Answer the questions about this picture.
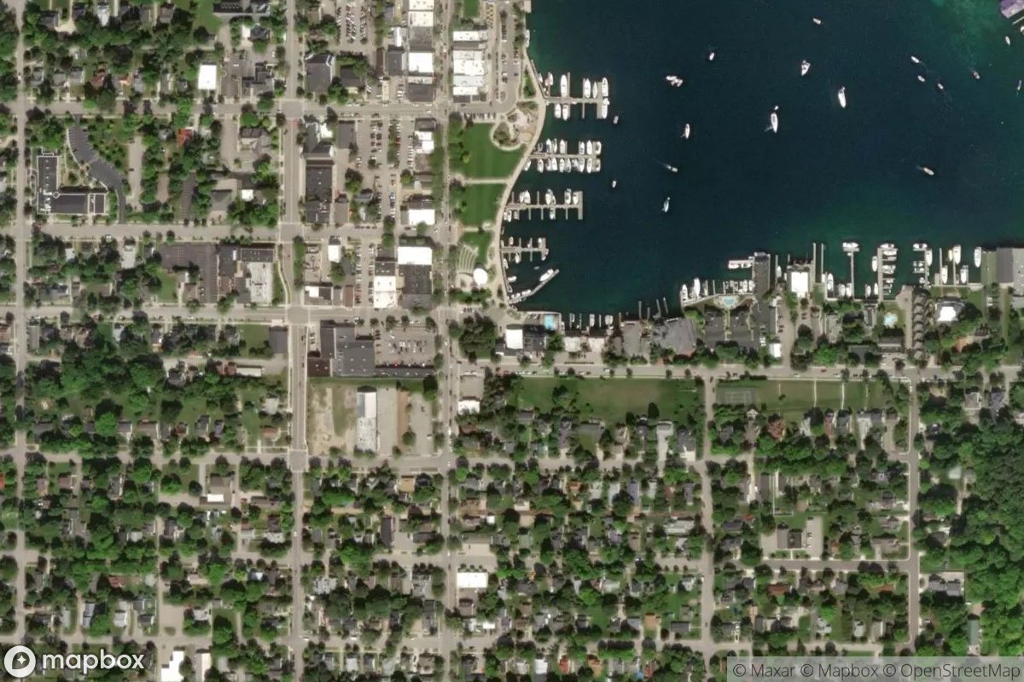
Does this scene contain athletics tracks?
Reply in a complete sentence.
No, there's no athletics track here.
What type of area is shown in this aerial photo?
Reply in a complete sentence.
This looks like a residential area.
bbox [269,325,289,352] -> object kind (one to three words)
building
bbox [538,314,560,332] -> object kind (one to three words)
swimming pool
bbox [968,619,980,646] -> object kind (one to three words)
shed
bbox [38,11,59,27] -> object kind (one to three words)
house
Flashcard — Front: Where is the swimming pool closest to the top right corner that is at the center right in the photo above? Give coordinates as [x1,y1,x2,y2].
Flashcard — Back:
[883,312,899,328]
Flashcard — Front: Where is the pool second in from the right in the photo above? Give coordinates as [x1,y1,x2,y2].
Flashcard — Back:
[715,296,739,309]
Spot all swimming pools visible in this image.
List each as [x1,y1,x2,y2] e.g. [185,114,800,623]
[538,314,560,332]
[883,312,899,328]
[715,296,739,309]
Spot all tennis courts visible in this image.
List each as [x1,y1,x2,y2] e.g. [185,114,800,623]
[724,389,754,404]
